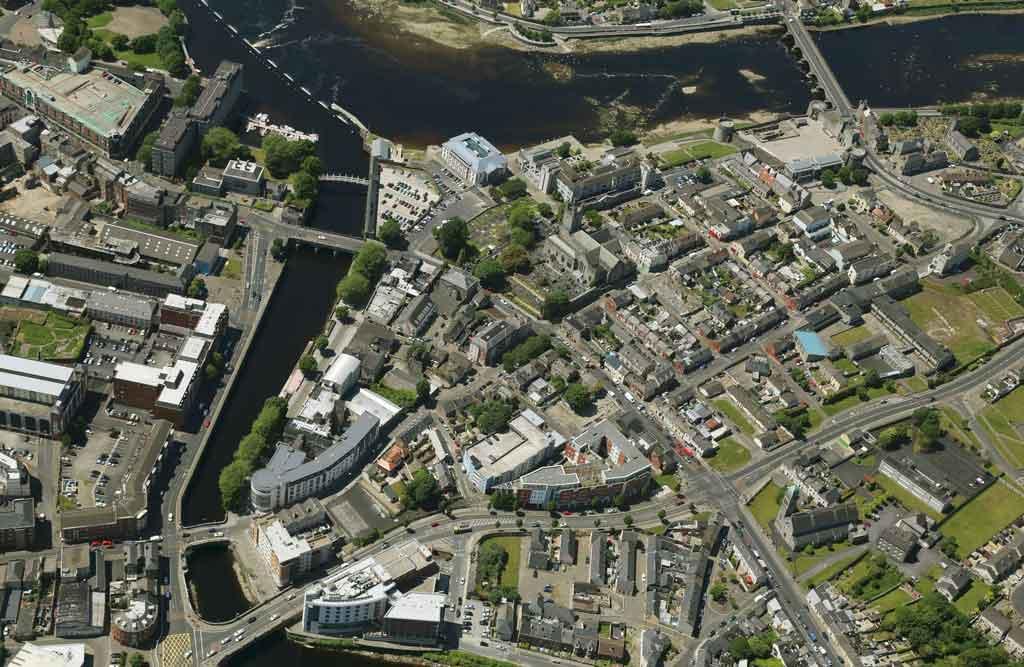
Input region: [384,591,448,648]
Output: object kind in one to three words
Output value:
building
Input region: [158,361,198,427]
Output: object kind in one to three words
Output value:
building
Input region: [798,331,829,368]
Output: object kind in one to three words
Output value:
shed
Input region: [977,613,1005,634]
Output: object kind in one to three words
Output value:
house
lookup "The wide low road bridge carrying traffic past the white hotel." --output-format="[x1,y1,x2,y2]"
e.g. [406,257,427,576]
[188,583,303,649]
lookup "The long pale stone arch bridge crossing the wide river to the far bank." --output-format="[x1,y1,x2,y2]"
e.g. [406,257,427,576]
[779,16,858,109]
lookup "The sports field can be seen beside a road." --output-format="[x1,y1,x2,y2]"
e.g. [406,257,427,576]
[904,279,1024,367]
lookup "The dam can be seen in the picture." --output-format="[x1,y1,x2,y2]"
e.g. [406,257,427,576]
[188,0,349,137]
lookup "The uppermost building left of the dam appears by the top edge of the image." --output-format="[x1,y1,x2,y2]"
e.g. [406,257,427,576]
[31,19,63,43]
